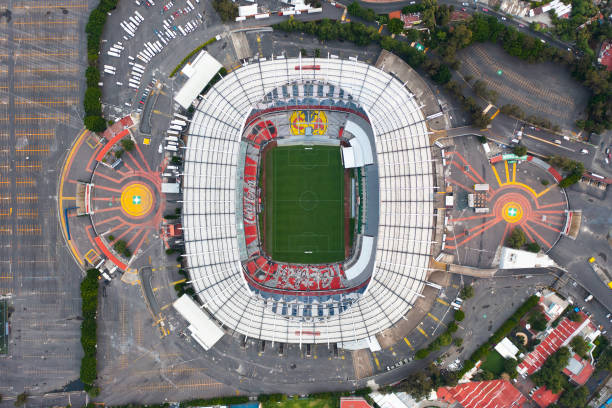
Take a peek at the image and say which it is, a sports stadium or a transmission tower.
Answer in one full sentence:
There is a sports stadium in the scene.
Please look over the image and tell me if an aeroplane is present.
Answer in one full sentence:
No, this view has no aeroplane in it.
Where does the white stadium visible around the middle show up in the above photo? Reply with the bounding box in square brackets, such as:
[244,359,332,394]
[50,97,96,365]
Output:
[179,51,437,349]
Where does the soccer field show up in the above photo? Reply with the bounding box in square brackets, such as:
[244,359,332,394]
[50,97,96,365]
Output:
[273,146,344,263]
